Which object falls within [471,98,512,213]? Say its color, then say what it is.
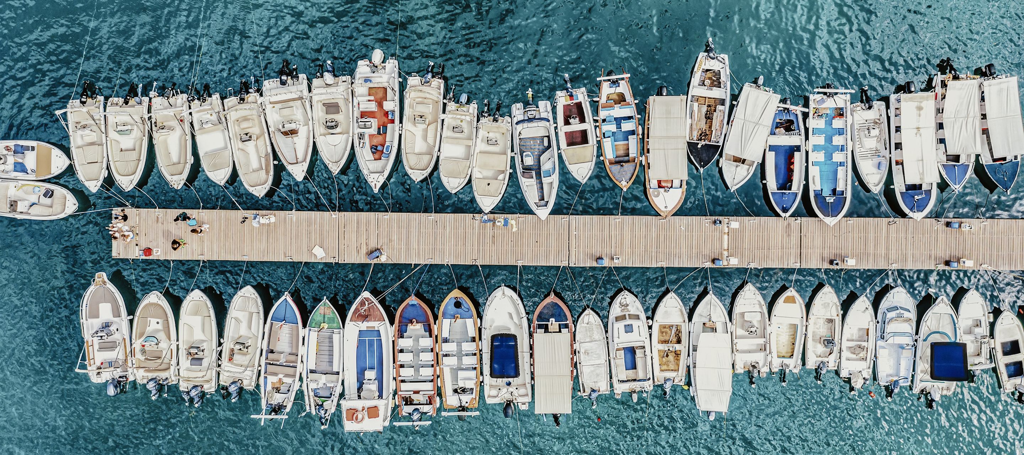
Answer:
white boat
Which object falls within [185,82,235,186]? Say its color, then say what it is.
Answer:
white boat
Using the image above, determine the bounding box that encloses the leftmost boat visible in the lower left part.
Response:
[76,271,136,397]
